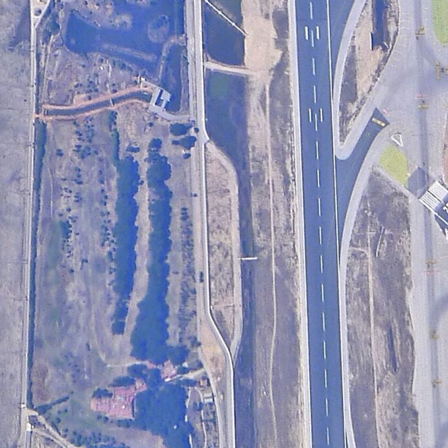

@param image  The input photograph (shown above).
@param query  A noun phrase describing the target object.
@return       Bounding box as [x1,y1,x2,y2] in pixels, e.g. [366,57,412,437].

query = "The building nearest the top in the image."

[142,78,171,111]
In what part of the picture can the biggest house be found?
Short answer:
bottom left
